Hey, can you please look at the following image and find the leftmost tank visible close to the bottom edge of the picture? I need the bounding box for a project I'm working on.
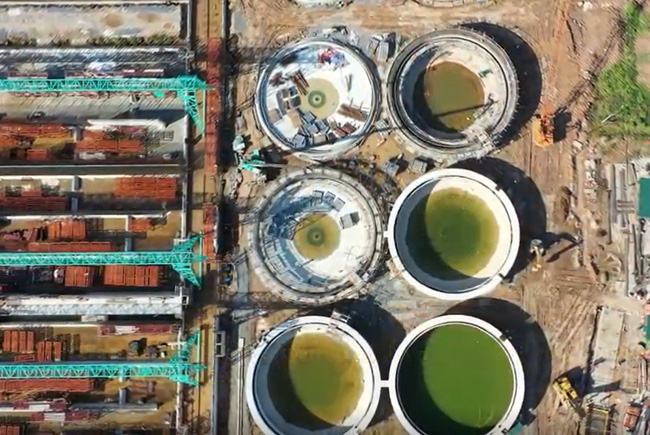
[245,312,383,435]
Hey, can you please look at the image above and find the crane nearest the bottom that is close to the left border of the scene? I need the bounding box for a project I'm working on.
[0,328,205,390]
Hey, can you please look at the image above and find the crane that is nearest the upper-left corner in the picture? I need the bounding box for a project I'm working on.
[0,76,213,135]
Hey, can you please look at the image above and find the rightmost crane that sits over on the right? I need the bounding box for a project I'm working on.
[526,20,566,145]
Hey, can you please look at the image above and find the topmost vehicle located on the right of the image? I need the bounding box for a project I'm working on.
[525,234,553,266]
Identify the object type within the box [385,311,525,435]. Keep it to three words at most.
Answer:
water tank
